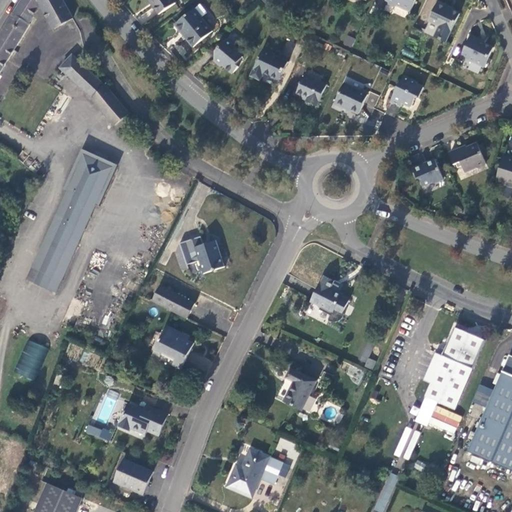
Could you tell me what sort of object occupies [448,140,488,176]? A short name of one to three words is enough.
house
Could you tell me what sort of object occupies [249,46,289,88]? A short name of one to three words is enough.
house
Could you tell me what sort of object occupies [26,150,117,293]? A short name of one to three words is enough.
building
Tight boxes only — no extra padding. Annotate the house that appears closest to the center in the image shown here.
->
[180,238,226,276]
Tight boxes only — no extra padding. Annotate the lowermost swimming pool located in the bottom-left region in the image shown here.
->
[97,388,119,425]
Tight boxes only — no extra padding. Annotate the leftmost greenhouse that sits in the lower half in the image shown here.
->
[17,342,52,382]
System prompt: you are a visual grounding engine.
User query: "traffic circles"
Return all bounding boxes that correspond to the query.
[296,149,373,225]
